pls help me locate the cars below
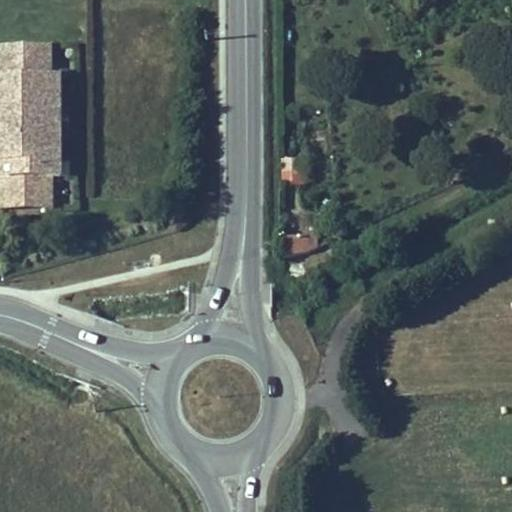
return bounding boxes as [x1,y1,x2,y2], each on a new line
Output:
[210,286,225,308]
[268,377,278,398]
[186,334,204,344]
[79,331,102,346]
[246,476,256,498]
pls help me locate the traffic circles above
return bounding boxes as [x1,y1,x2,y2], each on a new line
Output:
[140,312,296,479]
